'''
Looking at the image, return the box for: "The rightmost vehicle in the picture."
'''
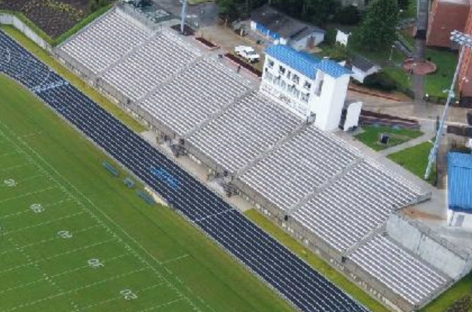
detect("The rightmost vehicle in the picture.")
[234,44,261,59]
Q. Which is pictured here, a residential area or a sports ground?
sports ground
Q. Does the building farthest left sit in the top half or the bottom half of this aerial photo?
top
